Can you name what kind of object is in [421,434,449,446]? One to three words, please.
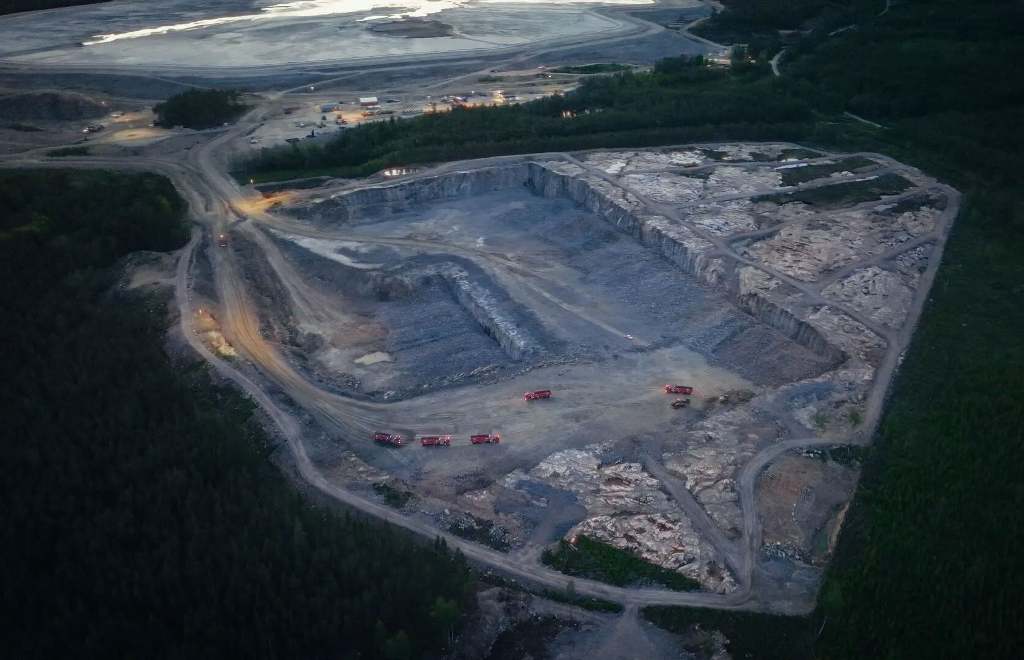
vehicle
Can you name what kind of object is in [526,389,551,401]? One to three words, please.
vehicle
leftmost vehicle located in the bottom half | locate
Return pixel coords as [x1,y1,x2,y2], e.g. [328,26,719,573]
[372,431,400,445]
